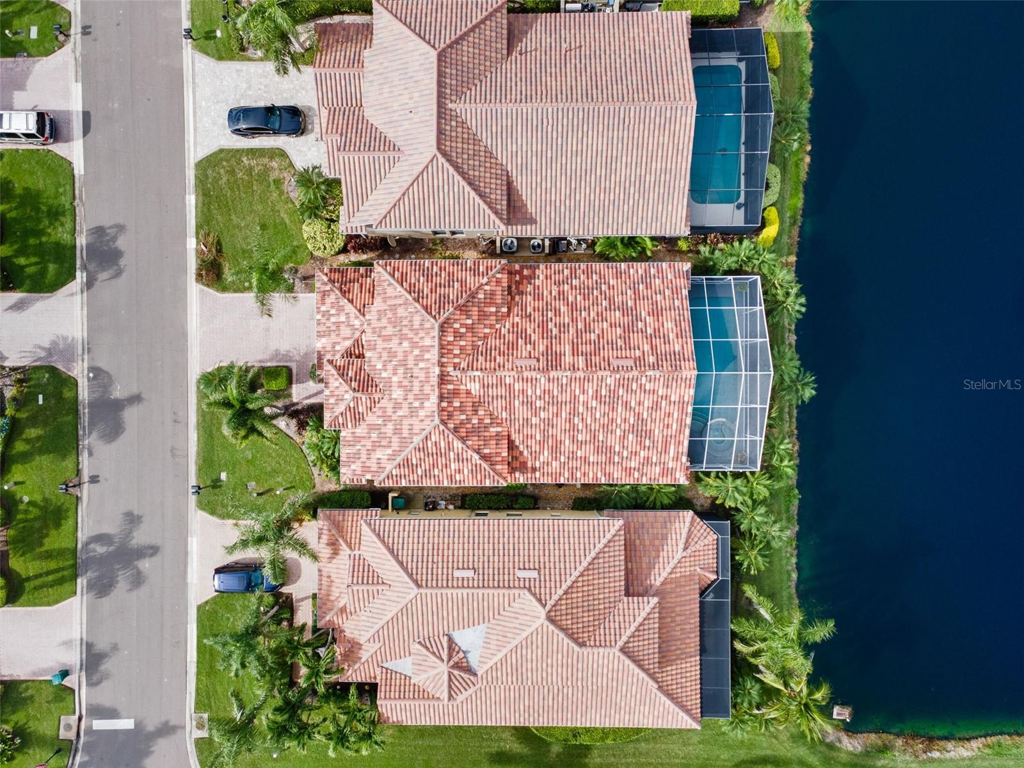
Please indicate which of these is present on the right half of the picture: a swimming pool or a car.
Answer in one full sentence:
It is a swimming pool that can be seen on the right half of the picture.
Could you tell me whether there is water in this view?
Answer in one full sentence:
Yes, the picture does contain water.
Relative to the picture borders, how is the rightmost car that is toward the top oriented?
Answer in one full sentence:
The rightmost car that is toward the top has been laid out horizontally relative to the frame.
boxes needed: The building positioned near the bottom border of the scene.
[315,507,719,732]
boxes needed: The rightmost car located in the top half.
[228,102,308,140]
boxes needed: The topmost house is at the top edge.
[313,0,698,238]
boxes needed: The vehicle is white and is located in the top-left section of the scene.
[0,111,56,148]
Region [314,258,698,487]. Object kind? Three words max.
house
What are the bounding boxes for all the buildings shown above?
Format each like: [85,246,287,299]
[313,0,698,238]
[315,507,719,732]
[314,258,698,487]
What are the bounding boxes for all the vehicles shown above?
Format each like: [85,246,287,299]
[0,111,56,148]
[211,562,285,598]
[228,102,308,140]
